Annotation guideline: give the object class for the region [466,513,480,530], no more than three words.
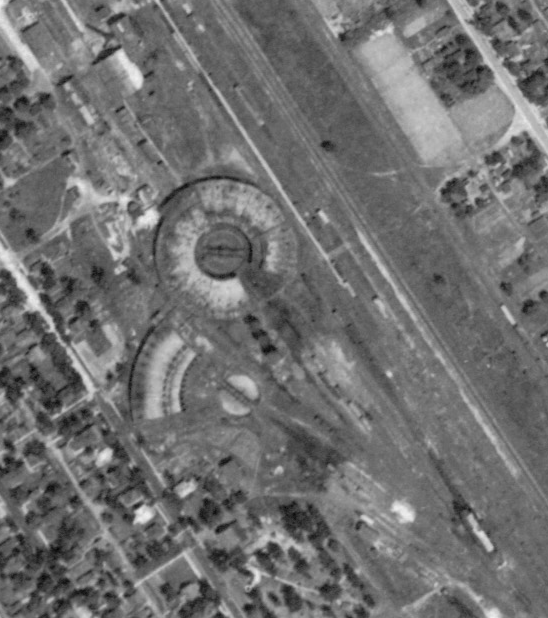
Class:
rail car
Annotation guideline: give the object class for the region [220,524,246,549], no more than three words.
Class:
barn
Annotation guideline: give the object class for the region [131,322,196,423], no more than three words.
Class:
shed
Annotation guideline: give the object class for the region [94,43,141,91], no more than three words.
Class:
building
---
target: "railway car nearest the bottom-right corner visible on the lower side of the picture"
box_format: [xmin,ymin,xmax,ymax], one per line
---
[476,530,495,552]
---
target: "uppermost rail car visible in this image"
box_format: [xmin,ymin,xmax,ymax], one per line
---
[500,305,517,325]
